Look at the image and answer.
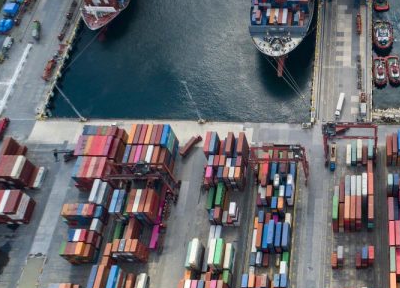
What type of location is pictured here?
port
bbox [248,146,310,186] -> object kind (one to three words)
container crane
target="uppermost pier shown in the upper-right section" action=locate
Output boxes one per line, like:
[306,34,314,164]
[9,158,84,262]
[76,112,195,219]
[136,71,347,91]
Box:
[309,0,376,122]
